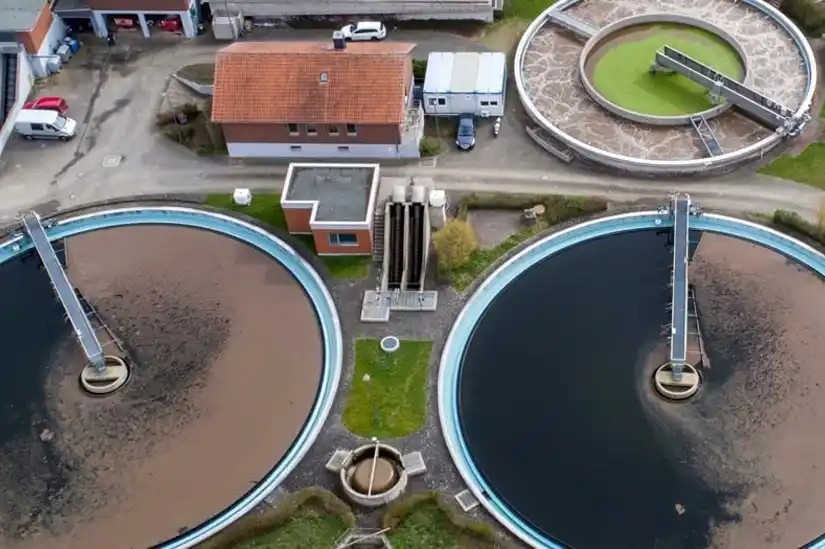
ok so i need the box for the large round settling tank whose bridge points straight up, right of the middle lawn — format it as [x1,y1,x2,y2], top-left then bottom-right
[437,210,825,549]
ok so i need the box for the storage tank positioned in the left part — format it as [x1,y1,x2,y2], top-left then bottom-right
[0,206,343,549]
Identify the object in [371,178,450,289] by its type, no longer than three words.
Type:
building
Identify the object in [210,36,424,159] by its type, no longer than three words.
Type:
house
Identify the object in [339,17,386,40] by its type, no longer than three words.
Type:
car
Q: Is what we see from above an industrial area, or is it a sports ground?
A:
industrial area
